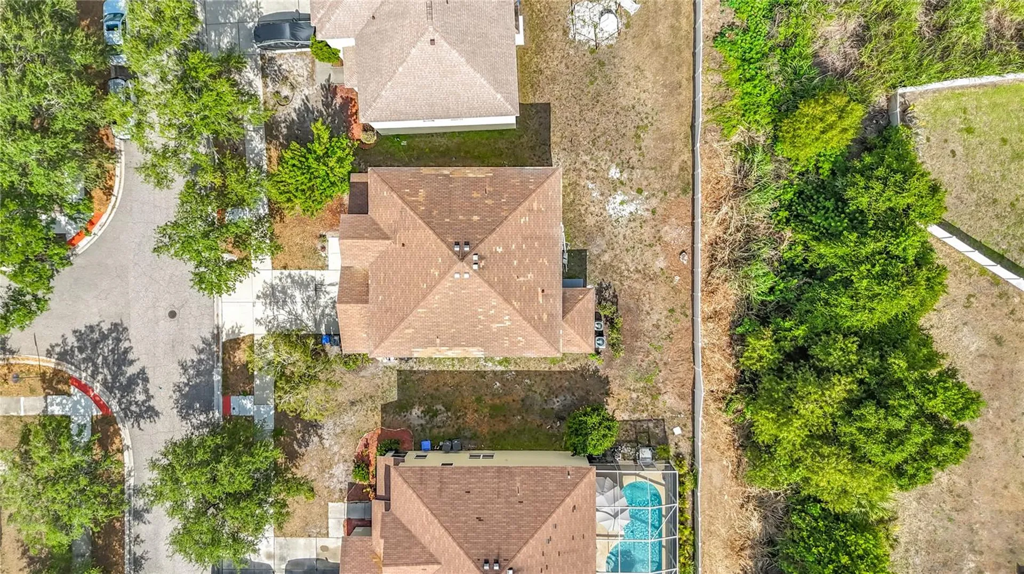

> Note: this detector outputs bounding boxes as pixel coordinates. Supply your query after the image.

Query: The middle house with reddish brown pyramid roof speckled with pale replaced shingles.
[335,165,596,358]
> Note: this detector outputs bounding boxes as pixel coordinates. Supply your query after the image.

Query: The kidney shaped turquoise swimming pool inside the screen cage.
[602,478,665,574]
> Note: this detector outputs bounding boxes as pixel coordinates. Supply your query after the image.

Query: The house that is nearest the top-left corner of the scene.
[301,0,523,134]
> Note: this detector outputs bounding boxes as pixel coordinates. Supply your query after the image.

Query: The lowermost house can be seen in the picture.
[336,452,596,574]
